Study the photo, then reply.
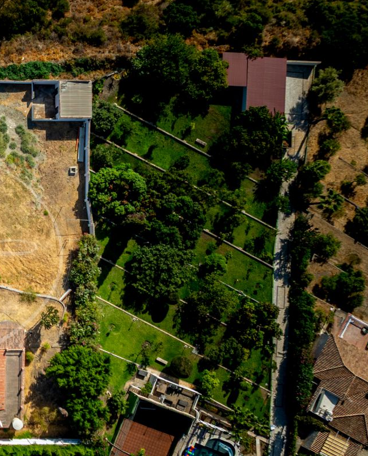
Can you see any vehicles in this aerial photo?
No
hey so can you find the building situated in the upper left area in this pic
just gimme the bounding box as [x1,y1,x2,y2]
[28,81,93,125]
